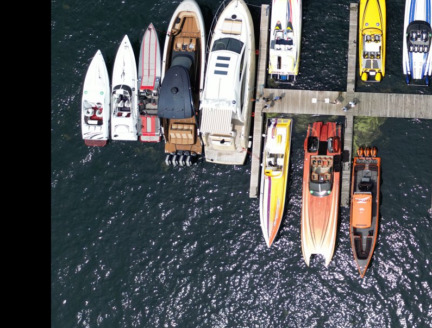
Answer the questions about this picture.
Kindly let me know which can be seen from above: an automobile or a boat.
boat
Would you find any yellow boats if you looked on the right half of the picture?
Yes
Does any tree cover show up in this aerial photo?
No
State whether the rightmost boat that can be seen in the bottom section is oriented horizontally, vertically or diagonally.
vertically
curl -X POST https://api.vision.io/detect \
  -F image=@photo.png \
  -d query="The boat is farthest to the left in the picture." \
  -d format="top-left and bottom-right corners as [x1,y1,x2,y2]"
[84,50,113,146]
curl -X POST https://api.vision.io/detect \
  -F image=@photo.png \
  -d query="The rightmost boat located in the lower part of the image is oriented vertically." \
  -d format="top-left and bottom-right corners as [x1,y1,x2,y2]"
[350,146,382,278]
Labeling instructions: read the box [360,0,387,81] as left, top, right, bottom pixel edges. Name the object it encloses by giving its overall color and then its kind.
yellow boat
